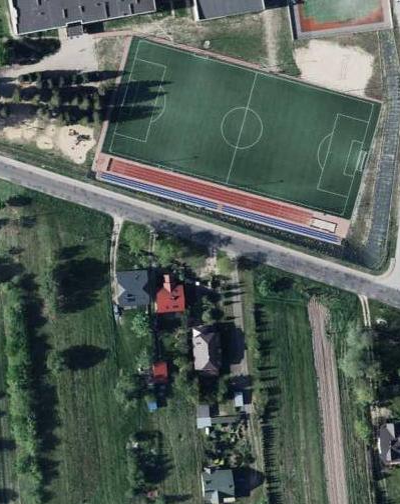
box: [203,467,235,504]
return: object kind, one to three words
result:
house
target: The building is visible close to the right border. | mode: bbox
[376,424,400,465]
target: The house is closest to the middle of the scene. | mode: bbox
[156,273,185,313]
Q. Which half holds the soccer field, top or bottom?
top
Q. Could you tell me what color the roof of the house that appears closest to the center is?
red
